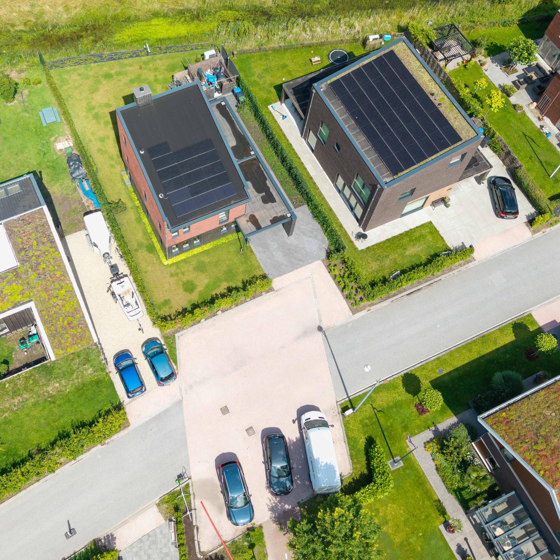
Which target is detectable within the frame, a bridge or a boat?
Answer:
boat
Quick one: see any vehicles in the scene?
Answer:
Yes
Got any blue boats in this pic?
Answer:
No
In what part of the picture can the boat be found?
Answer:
left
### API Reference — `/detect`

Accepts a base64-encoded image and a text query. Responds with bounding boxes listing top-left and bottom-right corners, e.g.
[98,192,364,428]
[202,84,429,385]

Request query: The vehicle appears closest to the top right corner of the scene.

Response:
[489,178,522,221]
